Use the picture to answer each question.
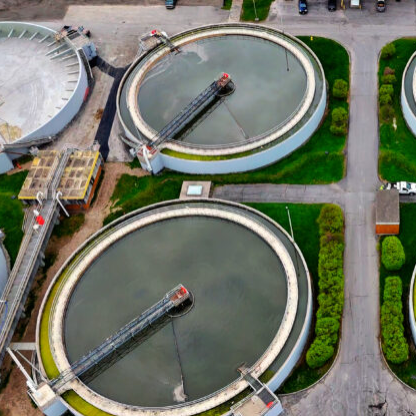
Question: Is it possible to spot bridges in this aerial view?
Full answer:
Yes, the image includes a bridge.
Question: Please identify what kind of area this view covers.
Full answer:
This looks like an industrial area.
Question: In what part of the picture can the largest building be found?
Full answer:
The largest building is in the left part of the image.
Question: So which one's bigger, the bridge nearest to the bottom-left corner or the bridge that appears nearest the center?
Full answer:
Compared with the bridge that appears nearest the center, the bridge nearest to the bottom-left corner is the larger one.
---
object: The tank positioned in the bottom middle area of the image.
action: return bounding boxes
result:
[24,198,315,416]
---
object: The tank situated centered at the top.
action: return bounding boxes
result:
[116,24,328,177]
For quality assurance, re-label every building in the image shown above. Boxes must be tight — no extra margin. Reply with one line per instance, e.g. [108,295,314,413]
[375,191,400,232]
[17,136,108,213]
